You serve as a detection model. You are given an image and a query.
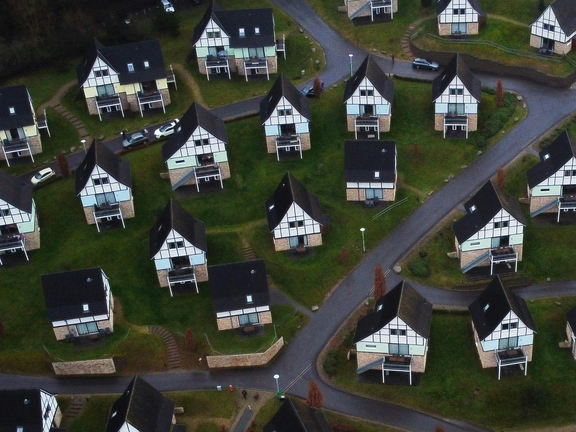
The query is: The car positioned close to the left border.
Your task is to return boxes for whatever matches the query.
[29,168,56,184]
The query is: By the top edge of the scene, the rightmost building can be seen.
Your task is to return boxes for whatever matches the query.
[528,0,576,54]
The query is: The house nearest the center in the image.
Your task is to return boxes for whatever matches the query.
[265,174,332,250]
